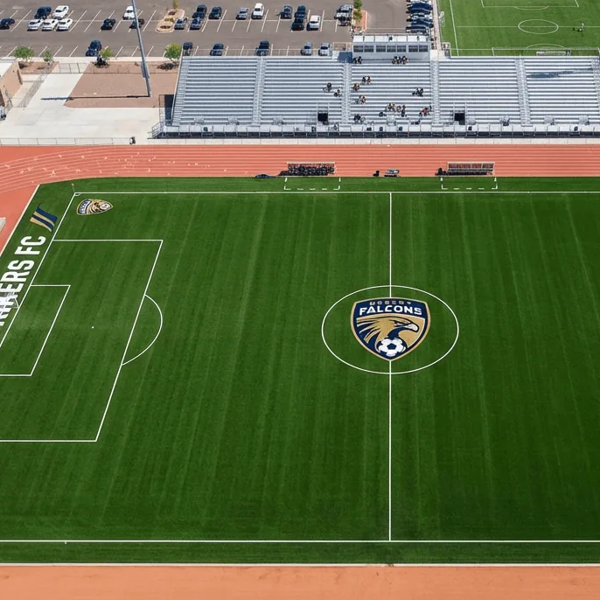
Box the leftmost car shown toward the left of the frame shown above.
[0,14,14,30]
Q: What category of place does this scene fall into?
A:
sports ground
